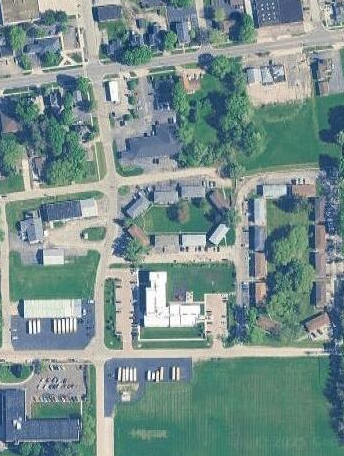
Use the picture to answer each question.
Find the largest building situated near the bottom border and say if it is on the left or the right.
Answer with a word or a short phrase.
left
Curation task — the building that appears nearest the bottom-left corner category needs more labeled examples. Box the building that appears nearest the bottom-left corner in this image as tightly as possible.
[6,390,79,442]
